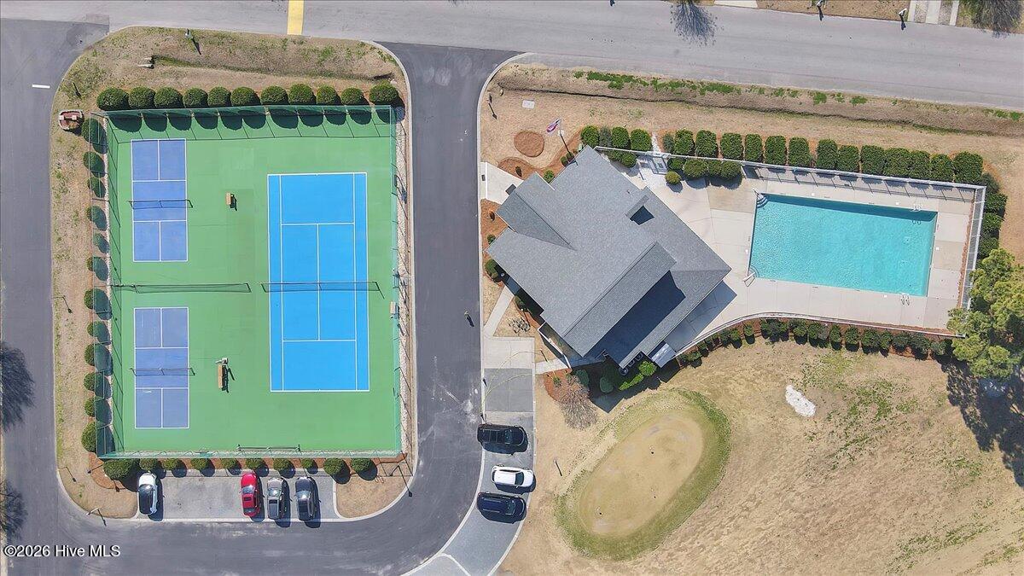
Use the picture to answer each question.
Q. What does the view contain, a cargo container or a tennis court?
tennis court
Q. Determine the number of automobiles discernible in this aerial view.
7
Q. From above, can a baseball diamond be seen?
No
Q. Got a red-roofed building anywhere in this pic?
No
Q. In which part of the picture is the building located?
center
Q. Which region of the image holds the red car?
bottom left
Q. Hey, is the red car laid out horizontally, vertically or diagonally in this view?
vertically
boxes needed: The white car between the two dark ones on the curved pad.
[491,466,534,488]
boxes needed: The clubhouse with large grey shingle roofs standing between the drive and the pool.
[486,148,731,369]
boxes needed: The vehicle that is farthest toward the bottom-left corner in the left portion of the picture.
[137,471,160,514]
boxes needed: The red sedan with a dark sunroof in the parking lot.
[239,472,261,517]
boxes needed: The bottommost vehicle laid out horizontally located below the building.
[477,493,525,517]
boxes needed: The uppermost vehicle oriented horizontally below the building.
[477,425,528,448]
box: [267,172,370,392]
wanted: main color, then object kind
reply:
blue tennis court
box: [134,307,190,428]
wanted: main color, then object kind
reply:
blue sports court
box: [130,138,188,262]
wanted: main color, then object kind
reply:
blue sports court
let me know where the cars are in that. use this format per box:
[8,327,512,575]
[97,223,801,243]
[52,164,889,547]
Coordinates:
[491,466,534,488]
[477,493,525,517]
[293,475,316,521]
[239,472,261,517]
[137,471,160,514]
[266,476,287,520]
[477,425,528,448]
